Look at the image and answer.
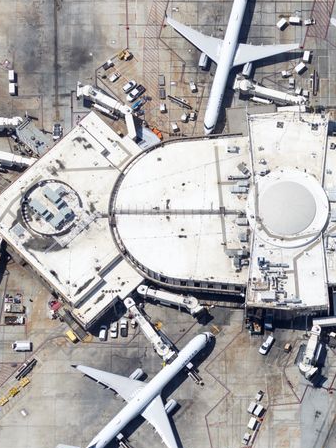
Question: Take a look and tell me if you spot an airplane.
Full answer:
Yes, there's an airplane here.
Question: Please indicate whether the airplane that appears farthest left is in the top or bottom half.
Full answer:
You can find the airplane that appears farthest left in the bottom half.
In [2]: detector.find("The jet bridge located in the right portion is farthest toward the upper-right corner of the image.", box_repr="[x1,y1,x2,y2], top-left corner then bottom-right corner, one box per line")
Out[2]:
[231,75,310,110]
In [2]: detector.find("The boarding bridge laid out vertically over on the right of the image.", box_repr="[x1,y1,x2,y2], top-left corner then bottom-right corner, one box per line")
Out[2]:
[297,324,322,379]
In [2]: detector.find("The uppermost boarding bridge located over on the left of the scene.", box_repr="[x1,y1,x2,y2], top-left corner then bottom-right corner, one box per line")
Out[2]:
[79,83,133,119]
